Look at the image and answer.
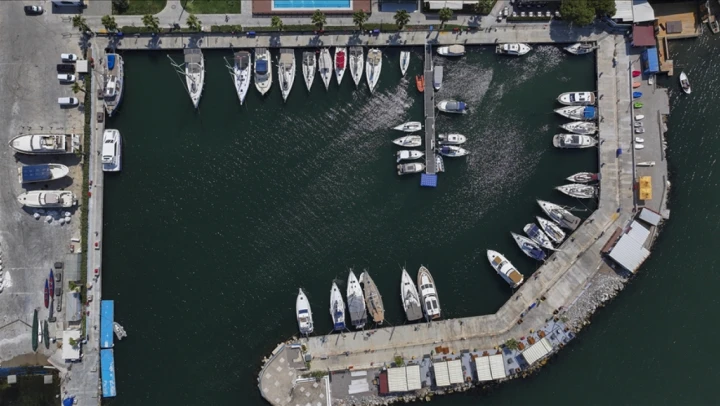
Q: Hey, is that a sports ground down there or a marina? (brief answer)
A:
marina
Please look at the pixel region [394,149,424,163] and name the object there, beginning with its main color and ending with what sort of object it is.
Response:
white boat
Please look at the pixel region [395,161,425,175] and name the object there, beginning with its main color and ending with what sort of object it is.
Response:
gray boat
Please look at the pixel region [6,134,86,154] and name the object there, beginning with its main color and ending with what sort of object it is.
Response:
white boat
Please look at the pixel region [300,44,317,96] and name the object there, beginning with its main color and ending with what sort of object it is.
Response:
gray boat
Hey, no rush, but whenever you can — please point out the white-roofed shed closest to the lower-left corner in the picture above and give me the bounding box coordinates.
[63,330,85,359]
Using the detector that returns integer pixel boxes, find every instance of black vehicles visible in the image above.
[24,5,45,15]
[56,63,77,73]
